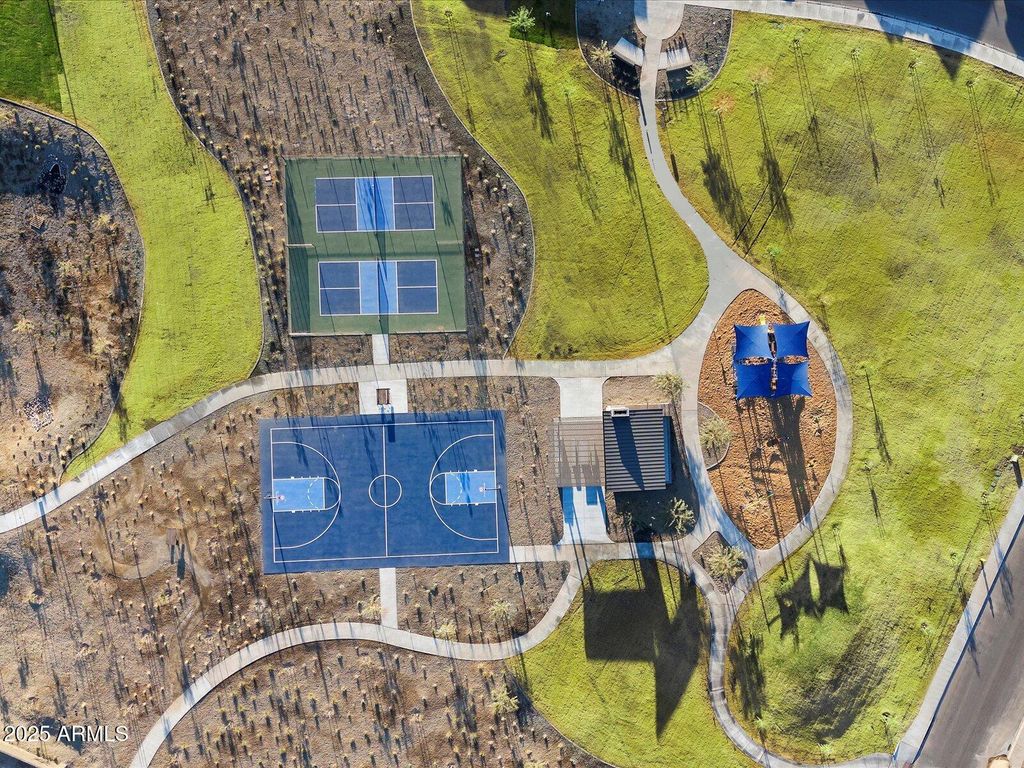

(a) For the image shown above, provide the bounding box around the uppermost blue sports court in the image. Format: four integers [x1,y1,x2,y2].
[315,175,435,233]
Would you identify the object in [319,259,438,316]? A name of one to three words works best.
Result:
sports court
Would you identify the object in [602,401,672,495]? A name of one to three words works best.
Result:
building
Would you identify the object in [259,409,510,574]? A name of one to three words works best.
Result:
basketball court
